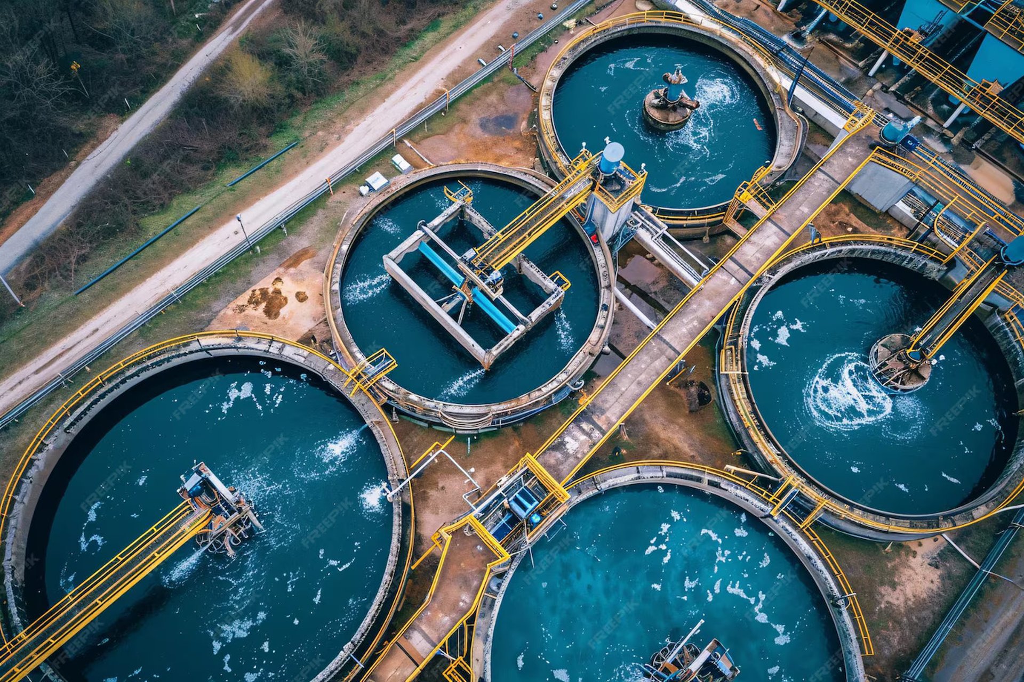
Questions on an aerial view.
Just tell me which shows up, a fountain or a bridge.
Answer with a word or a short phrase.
bridge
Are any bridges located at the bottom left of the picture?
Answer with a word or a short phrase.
Yes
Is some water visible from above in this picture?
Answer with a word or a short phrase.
Yes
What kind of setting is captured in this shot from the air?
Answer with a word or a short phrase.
industrial area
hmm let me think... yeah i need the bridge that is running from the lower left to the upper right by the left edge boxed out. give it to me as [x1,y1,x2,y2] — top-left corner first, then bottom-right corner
[0,501,221,680]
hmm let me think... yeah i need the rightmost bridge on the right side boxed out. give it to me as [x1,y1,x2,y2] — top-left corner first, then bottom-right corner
[905,248,1024,365]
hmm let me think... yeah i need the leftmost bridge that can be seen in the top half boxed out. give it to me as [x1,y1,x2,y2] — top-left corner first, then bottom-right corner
[475,162,596,272]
